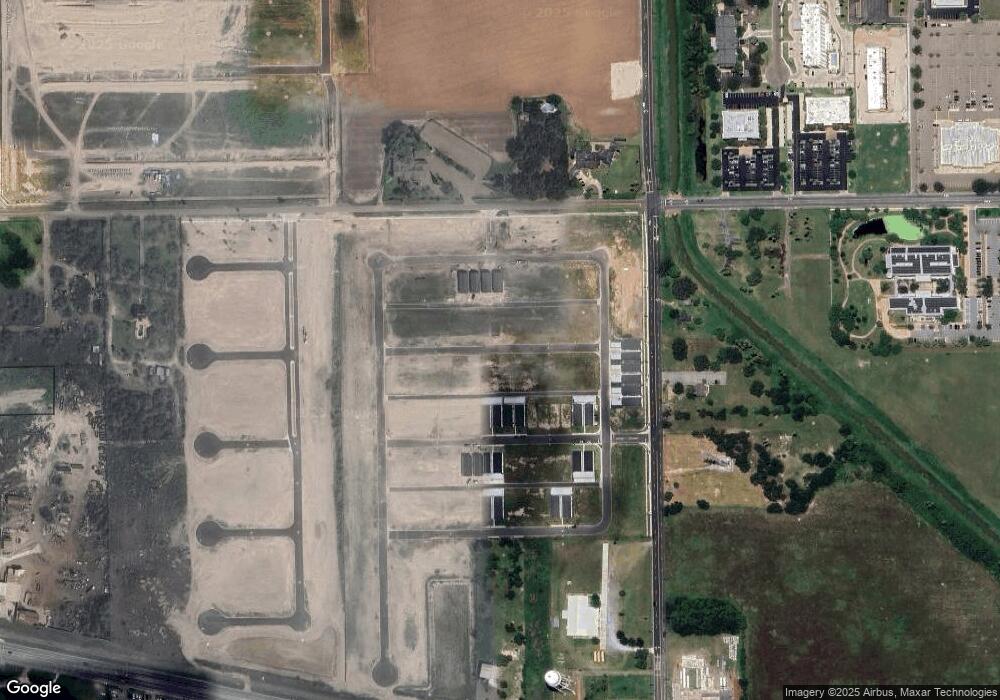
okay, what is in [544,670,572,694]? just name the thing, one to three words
water tower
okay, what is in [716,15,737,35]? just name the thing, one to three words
house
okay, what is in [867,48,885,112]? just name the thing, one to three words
building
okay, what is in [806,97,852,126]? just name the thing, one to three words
building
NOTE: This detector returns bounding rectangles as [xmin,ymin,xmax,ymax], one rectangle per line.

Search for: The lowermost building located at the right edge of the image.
[889,291,960,315]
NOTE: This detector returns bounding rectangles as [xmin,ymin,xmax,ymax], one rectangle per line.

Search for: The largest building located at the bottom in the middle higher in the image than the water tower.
[562,595,601,637]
